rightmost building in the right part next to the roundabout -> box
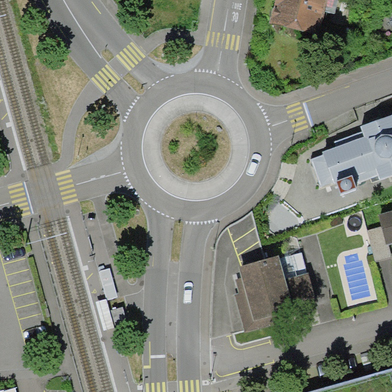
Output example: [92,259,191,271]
[311,116,392,197]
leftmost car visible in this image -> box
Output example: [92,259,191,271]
[4,248,26,260]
